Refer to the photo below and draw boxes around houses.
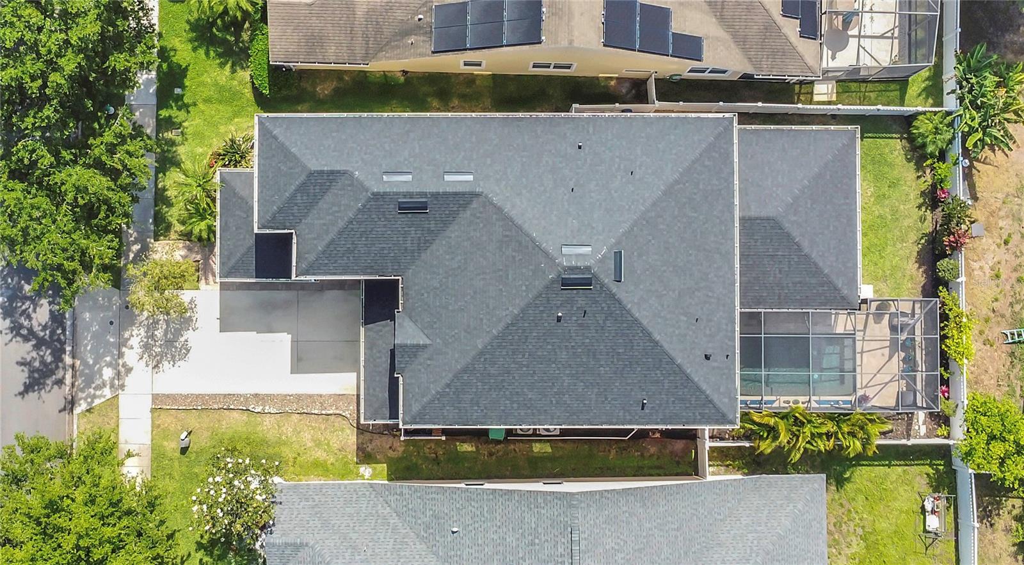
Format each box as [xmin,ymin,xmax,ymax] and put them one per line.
[265,0,824,86]
[217,113,862,430]
[270,472,828,565]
